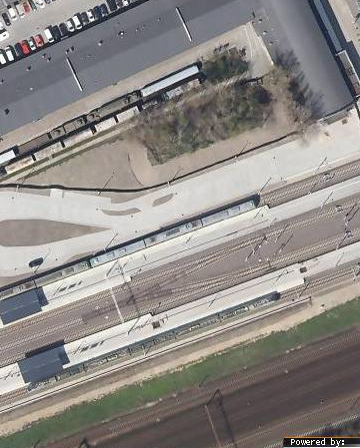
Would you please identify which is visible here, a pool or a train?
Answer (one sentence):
Looking from above, you can make out a train.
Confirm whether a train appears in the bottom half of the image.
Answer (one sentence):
Yes, a train is visible in the bottom half of the image.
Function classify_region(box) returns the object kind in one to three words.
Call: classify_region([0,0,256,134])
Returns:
shed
